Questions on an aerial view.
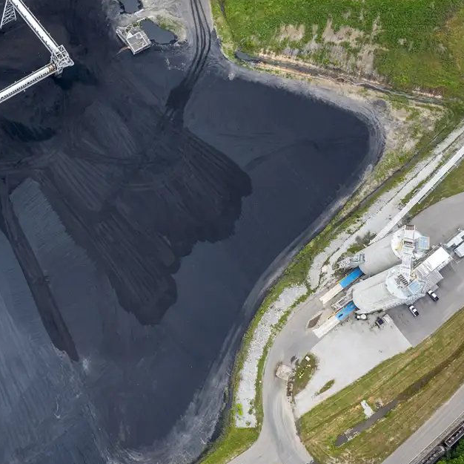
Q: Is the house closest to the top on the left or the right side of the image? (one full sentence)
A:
It is on the left.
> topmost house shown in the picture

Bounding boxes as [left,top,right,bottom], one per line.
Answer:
[115,28,152,55]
